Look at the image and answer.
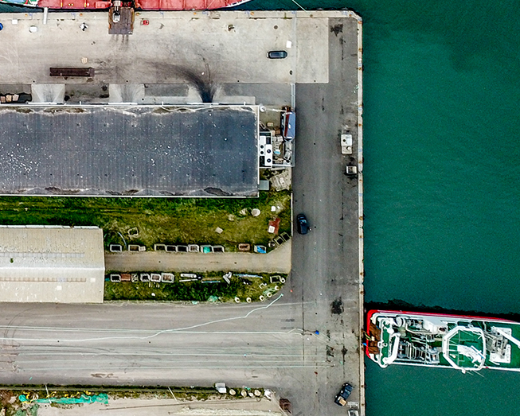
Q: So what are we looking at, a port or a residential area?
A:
port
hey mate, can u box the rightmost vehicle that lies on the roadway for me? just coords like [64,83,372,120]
[335,382,351,404]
